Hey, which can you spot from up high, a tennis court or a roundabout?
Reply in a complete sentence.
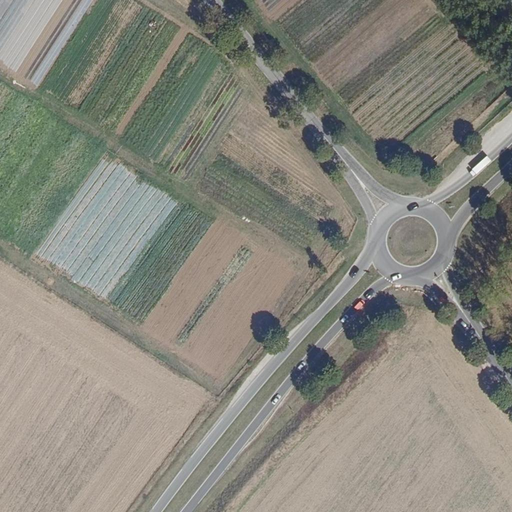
I can see a roundabout in this picture.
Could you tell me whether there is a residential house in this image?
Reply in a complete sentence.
No, there appears to be no residential house in this shot.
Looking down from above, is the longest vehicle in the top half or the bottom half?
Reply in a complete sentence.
The longest vehicle is in the top half of the image.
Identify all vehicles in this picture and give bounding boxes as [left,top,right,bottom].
[461,319,470,330]
[355,300,366,310]
[392,274,402,280]
[340,314,350,324]
[272,394,281,404]
[408,202,419,210]
[350,266,359,276]
[470,156,492,176]
[364,289,374,299]
[296,361,306,372]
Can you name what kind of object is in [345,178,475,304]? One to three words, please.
roundabout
